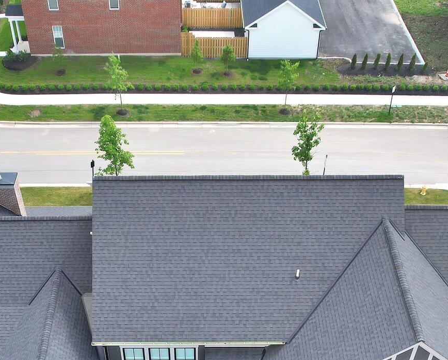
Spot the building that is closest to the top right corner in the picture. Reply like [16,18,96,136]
[242,0,326,58]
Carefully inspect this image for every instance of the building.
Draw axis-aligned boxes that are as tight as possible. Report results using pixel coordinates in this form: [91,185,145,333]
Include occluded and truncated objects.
[0,0,183,55]
[0,162,448,360]
[242,0,326,58]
